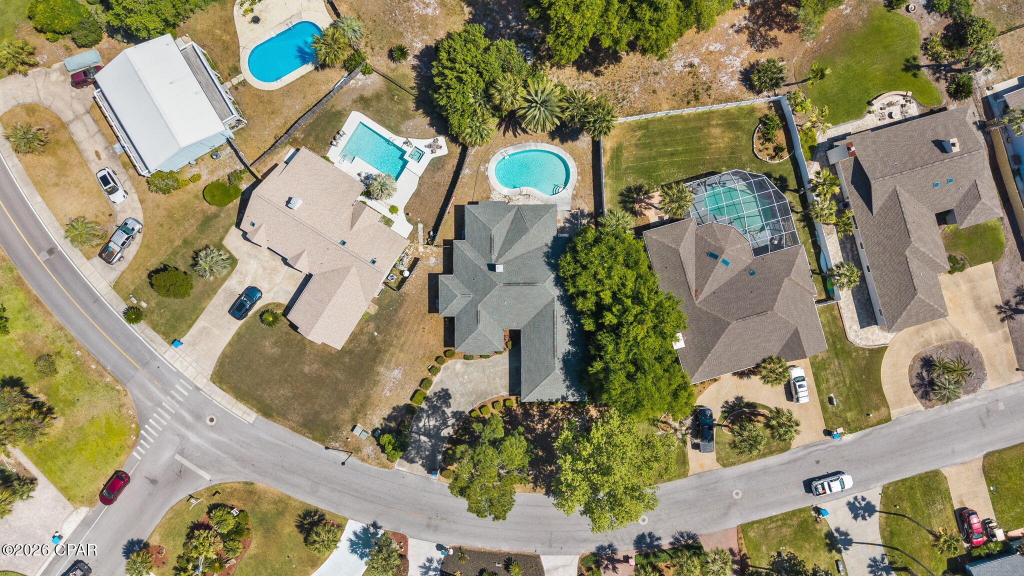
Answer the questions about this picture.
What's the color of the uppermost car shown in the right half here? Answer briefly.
white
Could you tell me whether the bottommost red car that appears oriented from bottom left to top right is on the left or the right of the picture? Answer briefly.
left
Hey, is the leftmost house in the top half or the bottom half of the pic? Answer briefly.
top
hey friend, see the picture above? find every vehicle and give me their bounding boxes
[809,473,856,498]
[69,558,94,576]
[959,508,986,548]
[696,405,716,453]
[987,520,1012,544]
[101,468,131,506]
[97,167,128,206]
[788,365,811,406]
[69,63,105,89]
[228,285,263,322]
[98,219,142,264]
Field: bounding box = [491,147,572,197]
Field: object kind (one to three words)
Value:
swimming pool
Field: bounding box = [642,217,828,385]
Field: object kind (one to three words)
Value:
house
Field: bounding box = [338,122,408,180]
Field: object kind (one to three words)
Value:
swimming pool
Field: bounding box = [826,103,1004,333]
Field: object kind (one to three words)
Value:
house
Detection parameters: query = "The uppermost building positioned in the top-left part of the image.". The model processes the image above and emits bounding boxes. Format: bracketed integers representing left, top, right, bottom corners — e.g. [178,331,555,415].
[89,33,246,177]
